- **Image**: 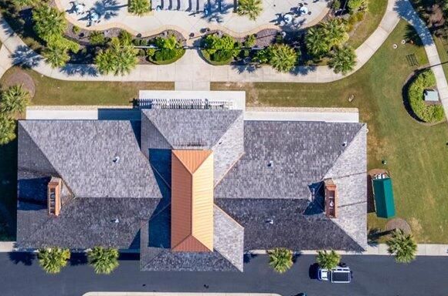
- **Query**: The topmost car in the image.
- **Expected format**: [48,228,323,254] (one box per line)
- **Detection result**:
[318,265,353,284]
